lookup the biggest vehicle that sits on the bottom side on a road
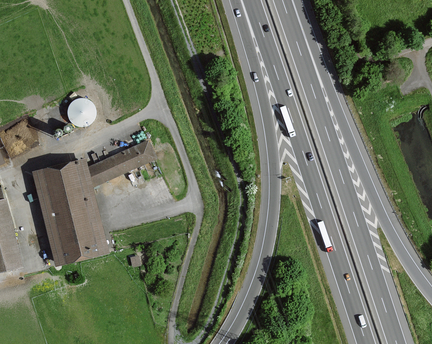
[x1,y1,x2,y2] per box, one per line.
[316,220,336,252]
